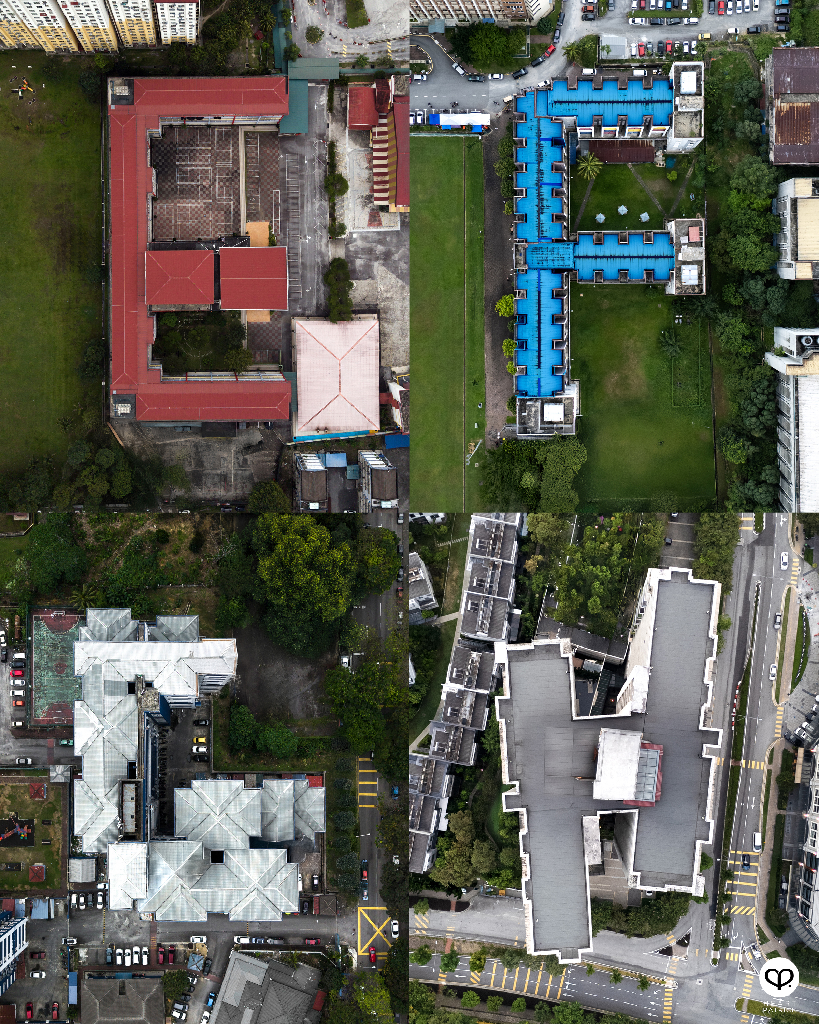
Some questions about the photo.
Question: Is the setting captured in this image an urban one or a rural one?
urban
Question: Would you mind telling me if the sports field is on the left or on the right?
left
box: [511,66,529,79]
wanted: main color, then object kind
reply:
black vehicle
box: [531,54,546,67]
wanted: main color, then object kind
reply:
black vehicle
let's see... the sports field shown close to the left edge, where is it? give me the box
[0,48,101,512]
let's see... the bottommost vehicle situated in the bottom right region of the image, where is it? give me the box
[751,944,764,963]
